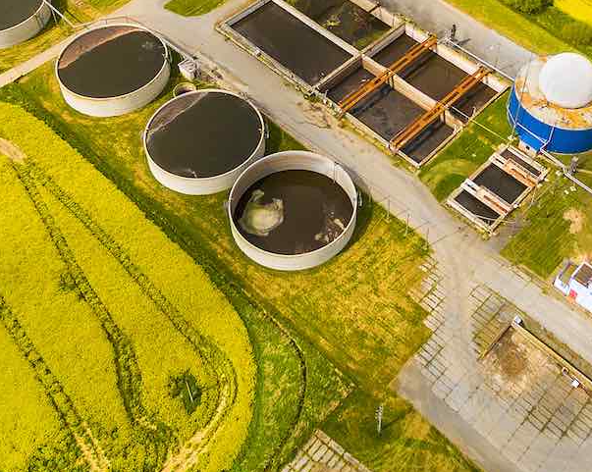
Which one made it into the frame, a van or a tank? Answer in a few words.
tank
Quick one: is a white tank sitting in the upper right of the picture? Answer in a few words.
Yes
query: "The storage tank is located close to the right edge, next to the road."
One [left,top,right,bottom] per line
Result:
[509,54,592,157]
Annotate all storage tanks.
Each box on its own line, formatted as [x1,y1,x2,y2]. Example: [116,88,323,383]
[144,89,270,197]
[55,23,172,116]
[509,54,592,157]
[228,151,362,274]
[0,0,52,51]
